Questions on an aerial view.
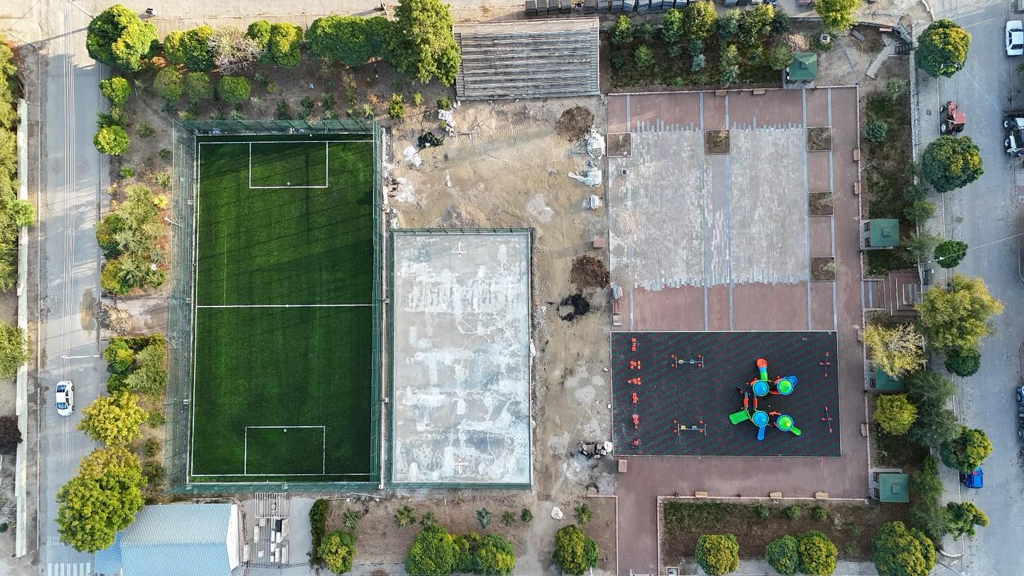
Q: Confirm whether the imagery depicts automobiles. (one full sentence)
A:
Yes, the frame does contain an automobile.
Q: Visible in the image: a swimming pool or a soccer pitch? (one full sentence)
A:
The image shows a soccer pitch.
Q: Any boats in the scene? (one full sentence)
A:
No, there isn't any boat down there.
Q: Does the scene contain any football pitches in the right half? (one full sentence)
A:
No, I can find no football pitch in the right half.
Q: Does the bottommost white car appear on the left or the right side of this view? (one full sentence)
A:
The bottommost white car sits on the left side.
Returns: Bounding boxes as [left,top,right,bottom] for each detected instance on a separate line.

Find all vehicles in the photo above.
[54,380,77,415]
[961,470,982,491]
[1002,117,1024,156]
[1003,22,1024,57]
[937,101,966,135]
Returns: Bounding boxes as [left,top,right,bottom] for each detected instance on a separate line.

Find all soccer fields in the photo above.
[188,132,381,485]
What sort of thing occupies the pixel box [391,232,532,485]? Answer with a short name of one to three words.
sports court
